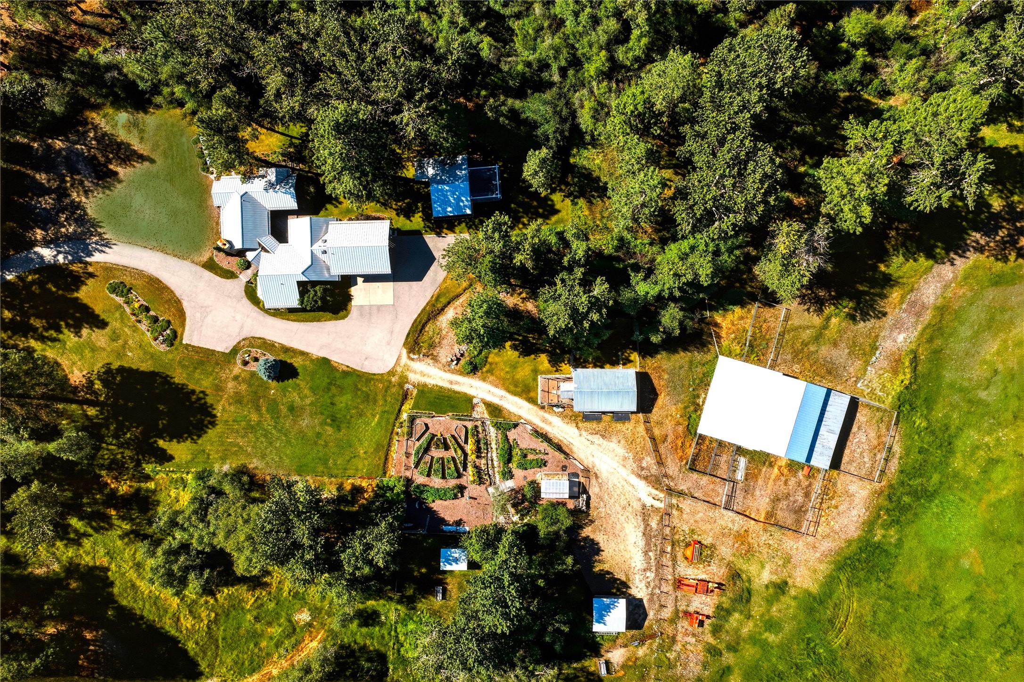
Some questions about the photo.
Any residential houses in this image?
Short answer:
Yes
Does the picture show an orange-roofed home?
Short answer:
No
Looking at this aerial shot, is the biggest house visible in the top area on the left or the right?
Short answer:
left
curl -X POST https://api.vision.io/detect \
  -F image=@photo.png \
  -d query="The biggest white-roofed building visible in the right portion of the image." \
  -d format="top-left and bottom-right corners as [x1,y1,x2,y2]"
[697,355,850,469]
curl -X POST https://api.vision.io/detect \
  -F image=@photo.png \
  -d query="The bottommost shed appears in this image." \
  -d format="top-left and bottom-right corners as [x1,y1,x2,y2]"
[592,595,626,632]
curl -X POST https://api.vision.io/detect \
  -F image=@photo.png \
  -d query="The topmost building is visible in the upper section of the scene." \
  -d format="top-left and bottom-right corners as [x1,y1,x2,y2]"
[415,155,502,220]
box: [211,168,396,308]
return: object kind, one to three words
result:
house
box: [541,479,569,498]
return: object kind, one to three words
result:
greenhouse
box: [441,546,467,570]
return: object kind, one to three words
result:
shed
